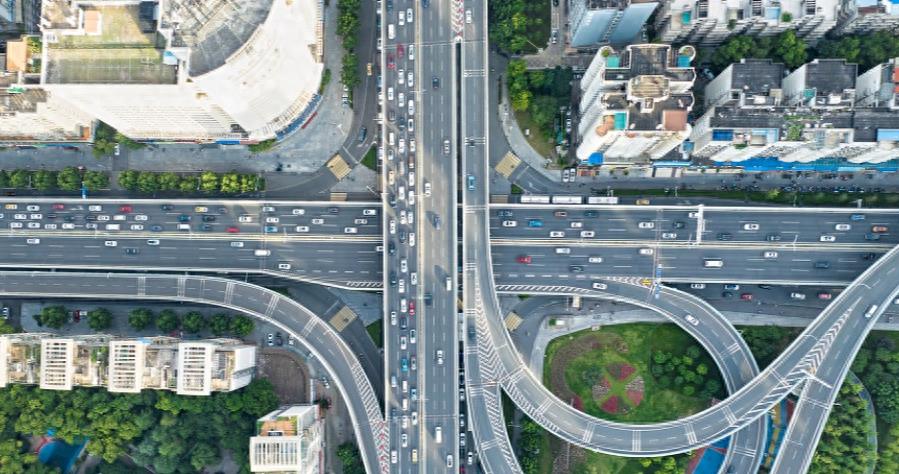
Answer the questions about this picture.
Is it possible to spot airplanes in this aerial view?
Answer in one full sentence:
No, no airplane can be seen from above.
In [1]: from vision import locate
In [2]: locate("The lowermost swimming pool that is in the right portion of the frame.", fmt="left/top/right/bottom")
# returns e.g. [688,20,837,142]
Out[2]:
[614,112,626,130]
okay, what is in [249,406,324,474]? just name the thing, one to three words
building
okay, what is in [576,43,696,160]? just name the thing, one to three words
building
